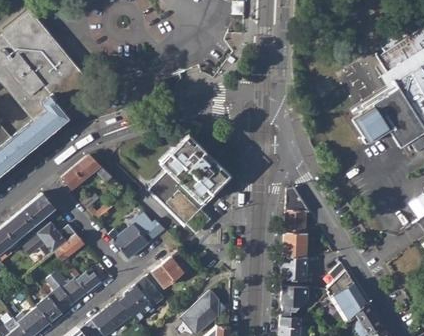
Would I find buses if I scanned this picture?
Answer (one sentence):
Yes, a bus can be made out from above.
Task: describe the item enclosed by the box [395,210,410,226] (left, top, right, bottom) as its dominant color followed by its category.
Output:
white vehicle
